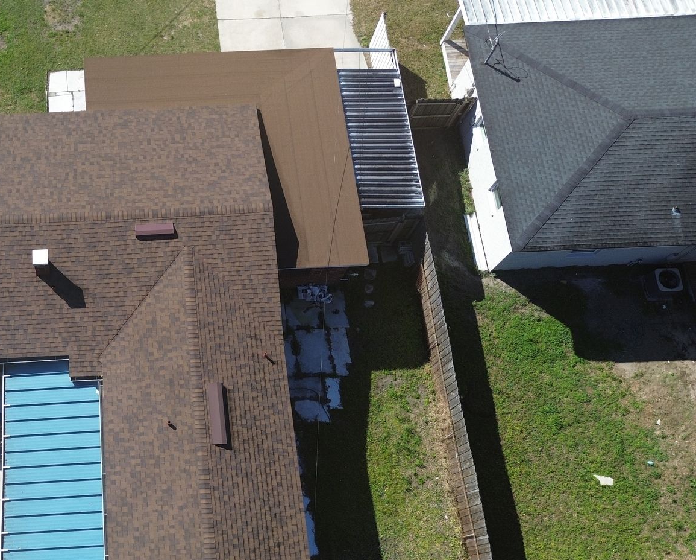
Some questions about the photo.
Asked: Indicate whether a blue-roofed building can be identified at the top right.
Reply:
No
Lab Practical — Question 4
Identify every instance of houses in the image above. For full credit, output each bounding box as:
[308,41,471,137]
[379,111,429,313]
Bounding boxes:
[0,52,366,560]
[438,0,696,272]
